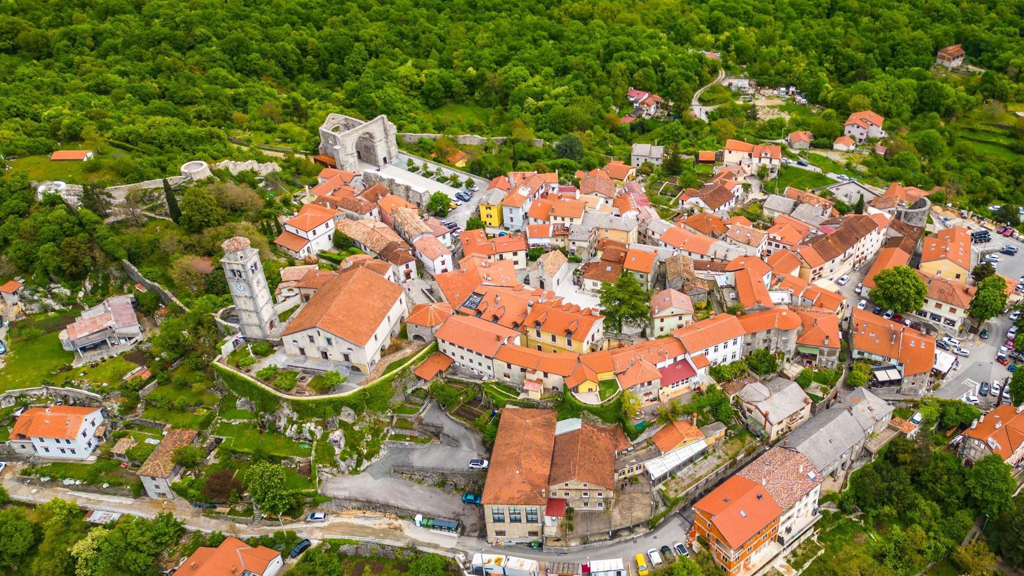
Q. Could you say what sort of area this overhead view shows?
residential area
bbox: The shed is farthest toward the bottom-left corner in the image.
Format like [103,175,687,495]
[87,508,122,532]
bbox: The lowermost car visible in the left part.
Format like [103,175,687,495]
[288,539,309,557]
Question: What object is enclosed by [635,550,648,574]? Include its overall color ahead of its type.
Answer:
yellow vehicle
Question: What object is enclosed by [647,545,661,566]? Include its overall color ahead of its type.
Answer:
white car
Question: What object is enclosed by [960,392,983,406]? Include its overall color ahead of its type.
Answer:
white car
